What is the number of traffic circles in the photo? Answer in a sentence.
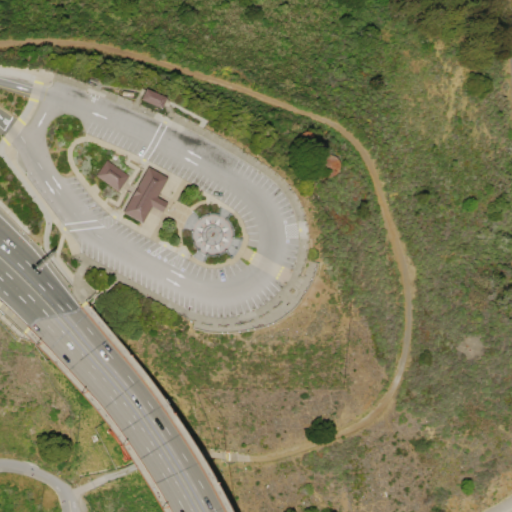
The picture shows no traffic circles.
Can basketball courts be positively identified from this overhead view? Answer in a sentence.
No, the photo shows no basketball court.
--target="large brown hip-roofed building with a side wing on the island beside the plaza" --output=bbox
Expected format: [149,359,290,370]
[124,166,168,220]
